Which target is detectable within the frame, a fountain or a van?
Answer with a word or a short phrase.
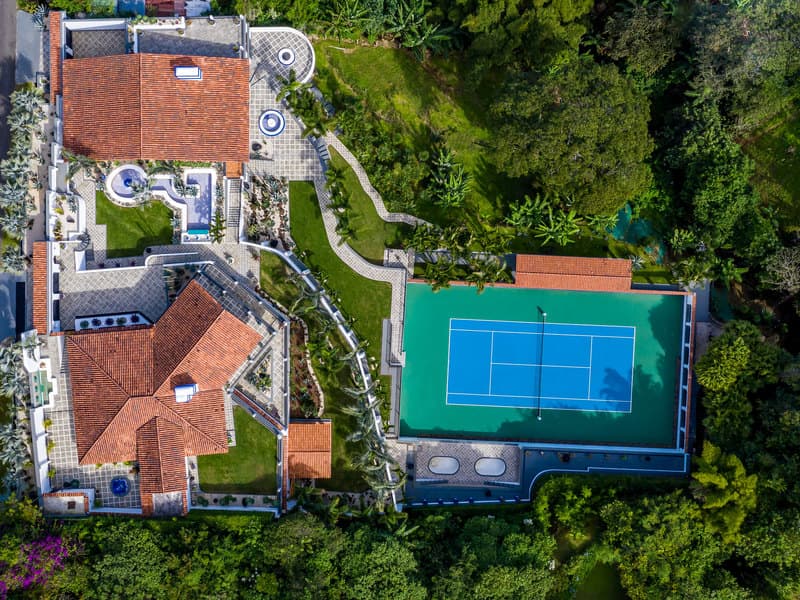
fountain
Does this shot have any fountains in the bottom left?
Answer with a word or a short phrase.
Yes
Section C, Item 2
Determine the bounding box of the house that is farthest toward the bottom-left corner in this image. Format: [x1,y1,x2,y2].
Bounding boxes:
[64,278,263,517]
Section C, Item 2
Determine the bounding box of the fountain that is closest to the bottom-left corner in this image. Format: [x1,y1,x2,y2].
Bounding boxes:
[111,475,132,495]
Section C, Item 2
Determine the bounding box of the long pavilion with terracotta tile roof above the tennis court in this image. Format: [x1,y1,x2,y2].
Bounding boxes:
[513,254,632,292]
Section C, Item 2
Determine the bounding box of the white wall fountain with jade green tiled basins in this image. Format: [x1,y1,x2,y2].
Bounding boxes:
[24,358,56,409]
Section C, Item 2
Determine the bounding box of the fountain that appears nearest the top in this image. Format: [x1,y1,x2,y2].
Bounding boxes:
[277,48,296,67]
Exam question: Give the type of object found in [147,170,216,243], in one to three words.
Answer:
swimming pool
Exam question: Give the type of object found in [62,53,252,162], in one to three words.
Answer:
house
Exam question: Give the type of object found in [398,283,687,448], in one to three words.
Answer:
tennis court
